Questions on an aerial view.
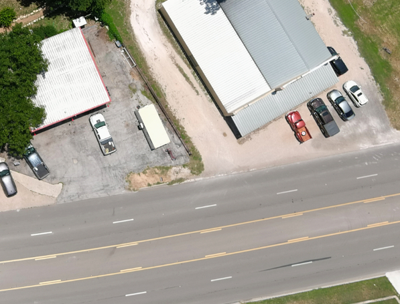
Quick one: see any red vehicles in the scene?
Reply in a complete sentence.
Yes, a red vehicle can be made out from above.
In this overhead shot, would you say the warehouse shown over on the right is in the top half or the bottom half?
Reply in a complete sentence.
You can find the warehouse shown over on the right in the top half.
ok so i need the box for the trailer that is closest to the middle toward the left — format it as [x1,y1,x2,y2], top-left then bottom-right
[136,101,168,149]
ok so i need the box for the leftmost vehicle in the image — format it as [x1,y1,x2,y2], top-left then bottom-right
[0,161,16,197]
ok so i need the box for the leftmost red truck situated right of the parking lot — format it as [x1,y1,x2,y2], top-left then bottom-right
[284,109,311,143]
